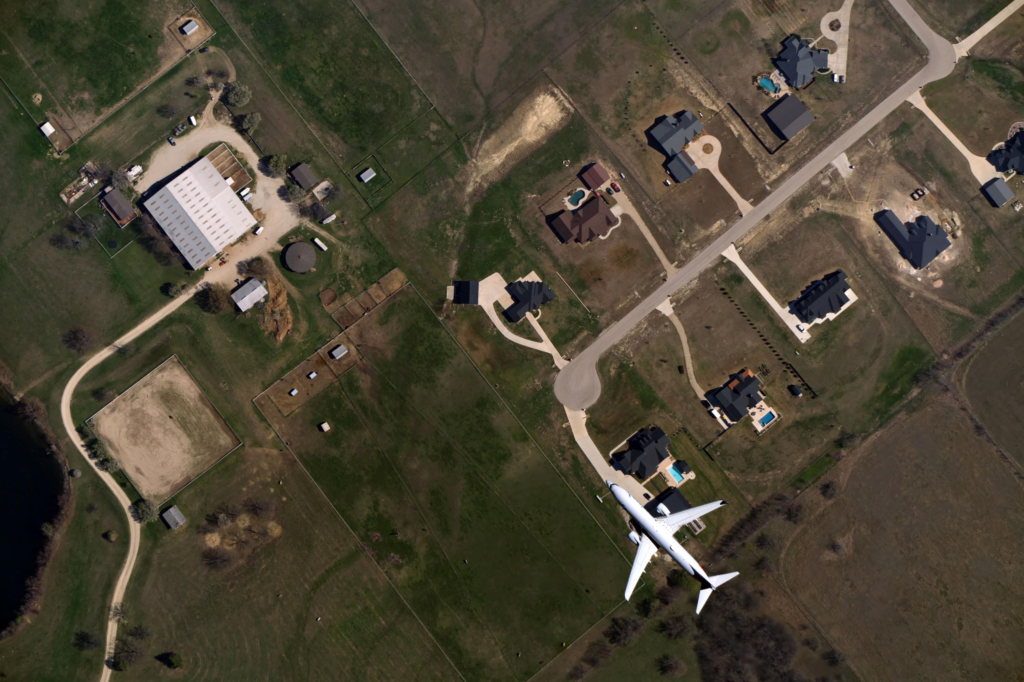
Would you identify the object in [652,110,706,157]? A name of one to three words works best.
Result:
house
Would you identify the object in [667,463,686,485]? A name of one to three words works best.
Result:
swimming pool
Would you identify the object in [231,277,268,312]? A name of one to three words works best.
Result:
shed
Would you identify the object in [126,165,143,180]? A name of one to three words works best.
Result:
camper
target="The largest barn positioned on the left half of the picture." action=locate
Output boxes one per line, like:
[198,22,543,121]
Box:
[144,155,256,269]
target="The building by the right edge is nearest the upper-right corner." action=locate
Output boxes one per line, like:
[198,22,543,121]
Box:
[991,132,1024,174]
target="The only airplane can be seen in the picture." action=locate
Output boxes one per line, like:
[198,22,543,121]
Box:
[605,479,741,615]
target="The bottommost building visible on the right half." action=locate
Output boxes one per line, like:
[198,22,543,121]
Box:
[647,485,699,536]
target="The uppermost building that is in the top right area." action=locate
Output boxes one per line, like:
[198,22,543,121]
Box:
[774,37,828,85]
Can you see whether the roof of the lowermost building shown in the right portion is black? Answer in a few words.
Yes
